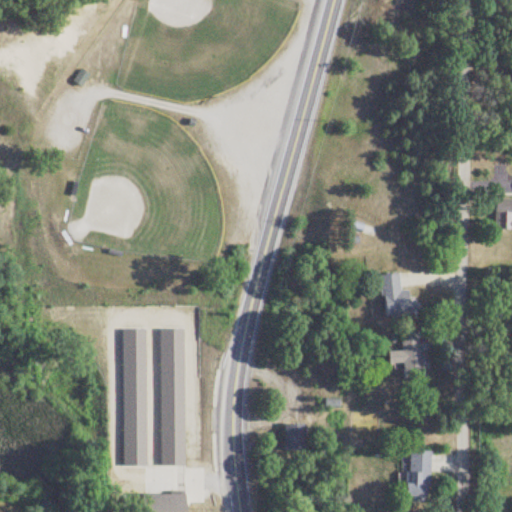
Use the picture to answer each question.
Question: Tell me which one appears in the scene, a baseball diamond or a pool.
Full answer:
The image shows a baseball diamond.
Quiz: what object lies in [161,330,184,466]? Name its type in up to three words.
building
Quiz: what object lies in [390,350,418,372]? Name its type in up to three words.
house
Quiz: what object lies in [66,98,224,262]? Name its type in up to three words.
baseball field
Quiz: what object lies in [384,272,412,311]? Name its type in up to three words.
house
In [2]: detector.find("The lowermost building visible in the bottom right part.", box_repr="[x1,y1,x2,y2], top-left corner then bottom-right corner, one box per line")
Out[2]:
[408,452,434,498]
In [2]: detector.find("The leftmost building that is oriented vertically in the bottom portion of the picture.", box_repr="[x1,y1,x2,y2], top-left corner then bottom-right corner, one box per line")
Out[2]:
[124,330,147,466]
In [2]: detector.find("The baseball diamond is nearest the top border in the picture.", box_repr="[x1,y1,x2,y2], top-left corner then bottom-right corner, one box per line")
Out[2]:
[118,0,300,102]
